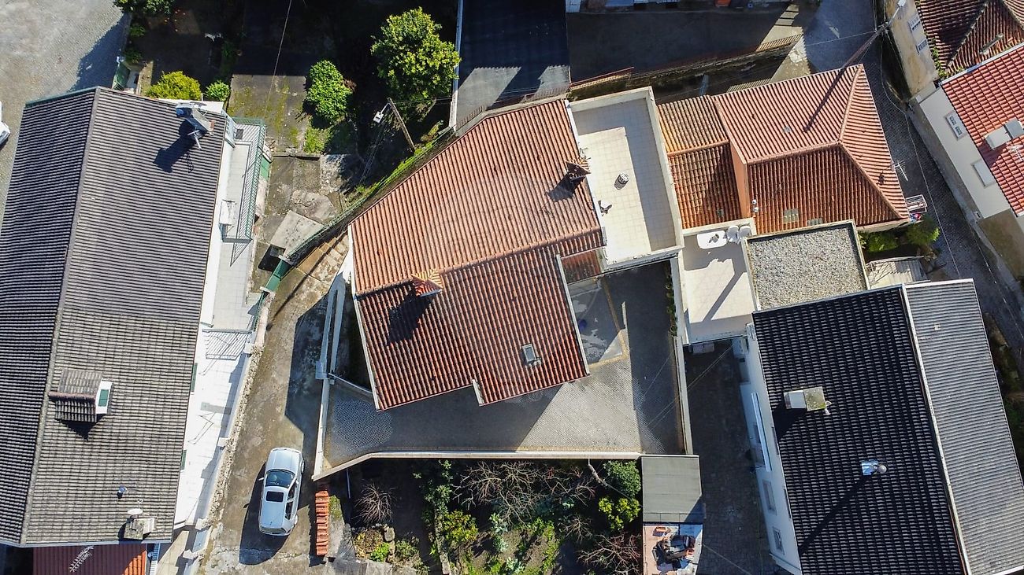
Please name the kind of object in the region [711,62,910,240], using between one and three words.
house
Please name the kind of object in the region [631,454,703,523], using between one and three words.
shed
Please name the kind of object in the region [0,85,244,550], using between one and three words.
house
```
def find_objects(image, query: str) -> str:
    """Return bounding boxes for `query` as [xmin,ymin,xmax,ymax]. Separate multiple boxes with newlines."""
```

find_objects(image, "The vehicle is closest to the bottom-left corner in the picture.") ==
[255,450,302,538]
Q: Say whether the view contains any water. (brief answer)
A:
No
